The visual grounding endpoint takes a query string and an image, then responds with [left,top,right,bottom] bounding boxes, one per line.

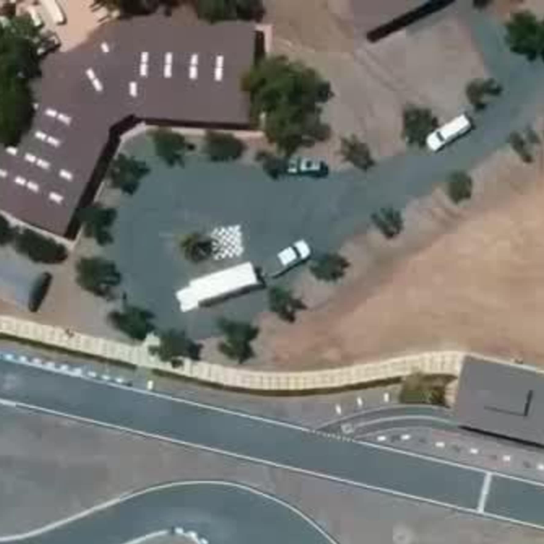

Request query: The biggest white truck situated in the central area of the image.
[179,262,262,309]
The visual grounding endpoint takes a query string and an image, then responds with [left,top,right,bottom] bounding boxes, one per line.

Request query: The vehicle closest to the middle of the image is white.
[274,238,314,269]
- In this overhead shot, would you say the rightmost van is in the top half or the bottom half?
top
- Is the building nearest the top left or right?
right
